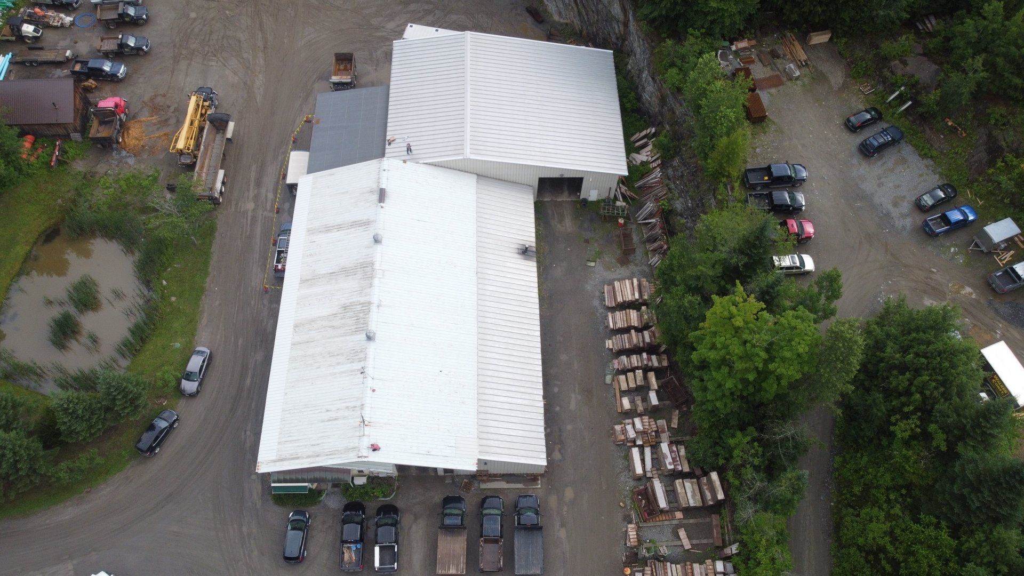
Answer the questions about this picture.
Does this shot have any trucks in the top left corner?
Yes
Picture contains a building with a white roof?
Yes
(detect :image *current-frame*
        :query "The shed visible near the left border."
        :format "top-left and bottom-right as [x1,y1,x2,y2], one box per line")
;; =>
[0,79,85,136]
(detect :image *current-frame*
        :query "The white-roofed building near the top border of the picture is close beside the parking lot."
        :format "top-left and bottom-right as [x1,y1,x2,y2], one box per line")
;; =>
[385,28,629,202]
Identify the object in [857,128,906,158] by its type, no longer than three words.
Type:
car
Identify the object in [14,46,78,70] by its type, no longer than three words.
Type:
trailer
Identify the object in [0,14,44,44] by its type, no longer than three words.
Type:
work vehicle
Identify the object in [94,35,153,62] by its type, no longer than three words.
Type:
truck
